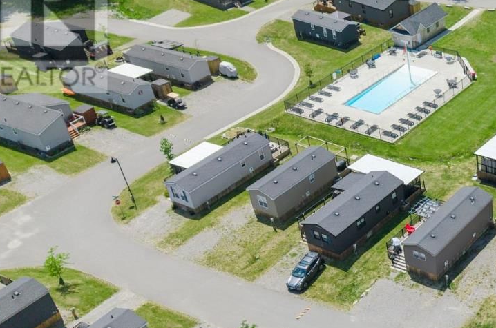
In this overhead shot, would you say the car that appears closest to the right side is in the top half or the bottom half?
bottom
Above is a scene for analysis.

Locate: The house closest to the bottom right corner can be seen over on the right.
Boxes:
[402,188,494,281]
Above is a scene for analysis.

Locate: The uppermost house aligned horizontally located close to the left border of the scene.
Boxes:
[10,20,104,71]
